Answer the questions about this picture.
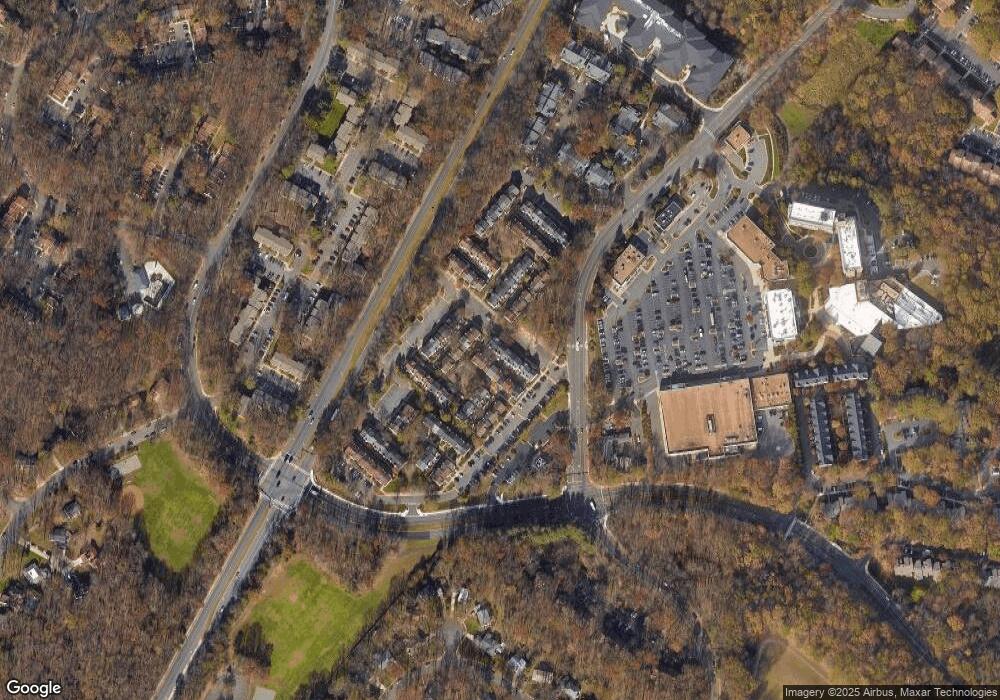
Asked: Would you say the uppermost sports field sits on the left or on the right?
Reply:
left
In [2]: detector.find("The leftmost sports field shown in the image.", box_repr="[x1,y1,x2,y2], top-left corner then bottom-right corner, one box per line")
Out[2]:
[120,439,222,572]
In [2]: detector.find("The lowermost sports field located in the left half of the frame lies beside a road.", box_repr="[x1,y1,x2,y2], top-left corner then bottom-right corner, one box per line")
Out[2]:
[236,540,436,700]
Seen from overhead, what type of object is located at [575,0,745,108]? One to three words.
house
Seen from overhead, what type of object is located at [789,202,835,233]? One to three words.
building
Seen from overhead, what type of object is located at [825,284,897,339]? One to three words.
building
